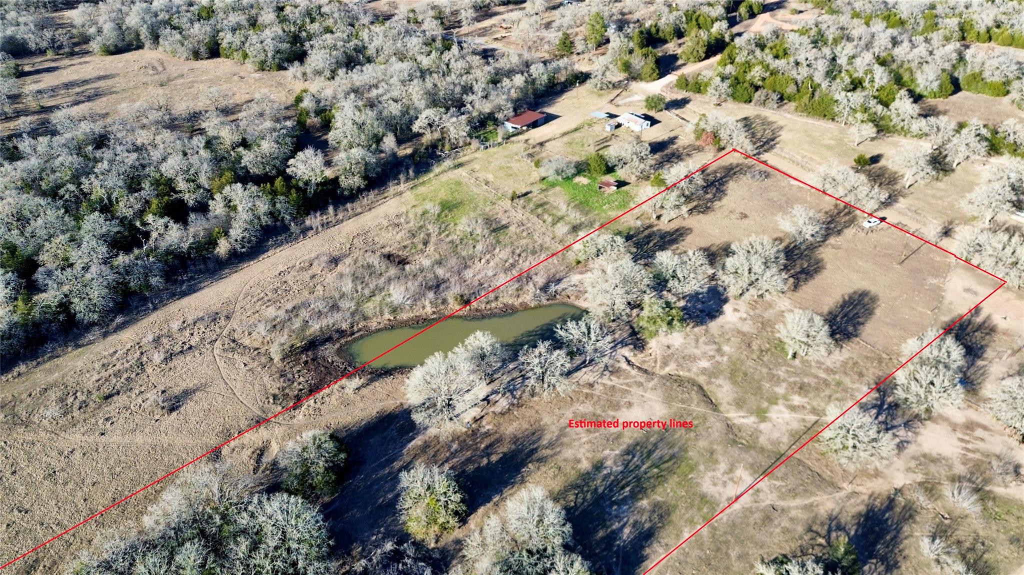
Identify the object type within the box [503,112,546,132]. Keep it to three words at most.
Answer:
barn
